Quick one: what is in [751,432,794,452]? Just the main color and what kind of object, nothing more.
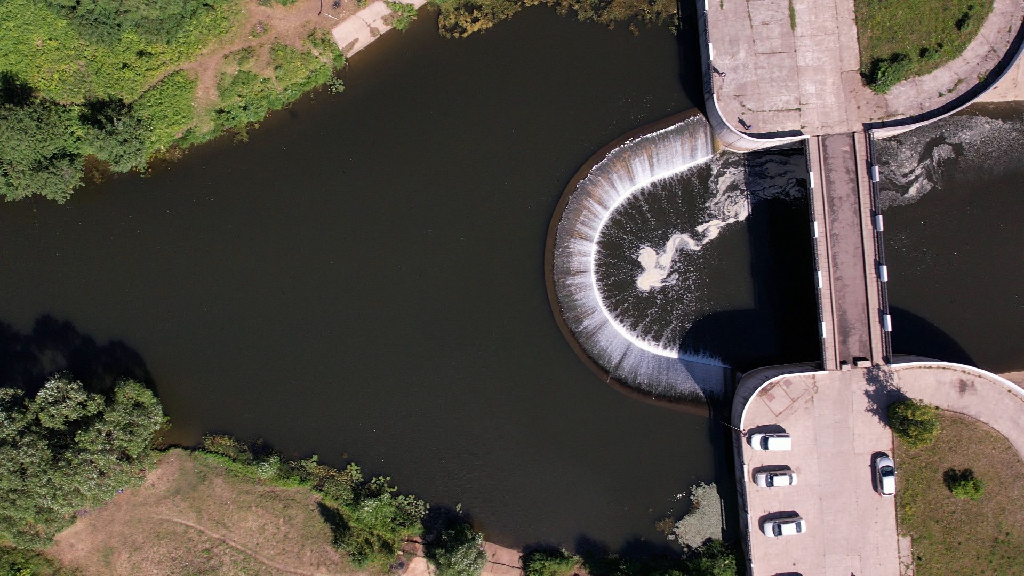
white car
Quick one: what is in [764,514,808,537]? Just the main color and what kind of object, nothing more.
white car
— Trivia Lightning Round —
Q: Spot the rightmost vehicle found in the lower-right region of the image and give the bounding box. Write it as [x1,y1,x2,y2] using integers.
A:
[875,455,899,497]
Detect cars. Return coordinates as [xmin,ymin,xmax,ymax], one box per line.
[875,455,899,497]
[751,432,794,452]
[764,514,808,537]
[755,469,798,489]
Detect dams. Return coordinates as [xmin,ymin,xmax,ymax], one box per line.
[544,106,749,428]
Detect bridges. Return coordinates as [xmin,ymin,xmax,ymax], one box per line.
[806,129,890,371]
